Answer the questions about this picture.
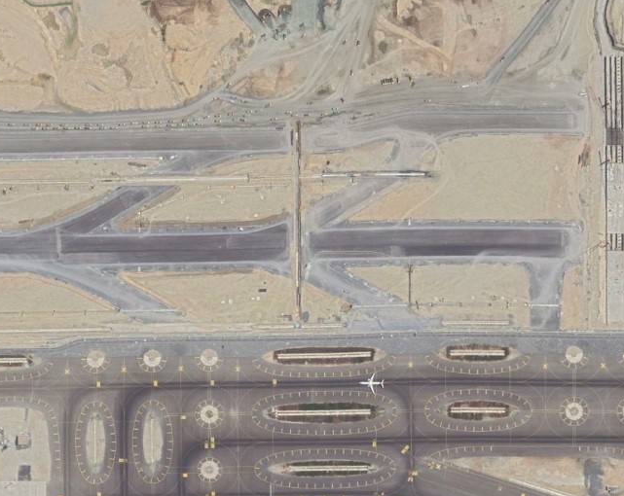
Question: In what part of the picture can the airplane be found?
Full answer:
The airplane is in the bottom part of the image.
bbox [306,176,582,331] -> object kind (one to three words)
runway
